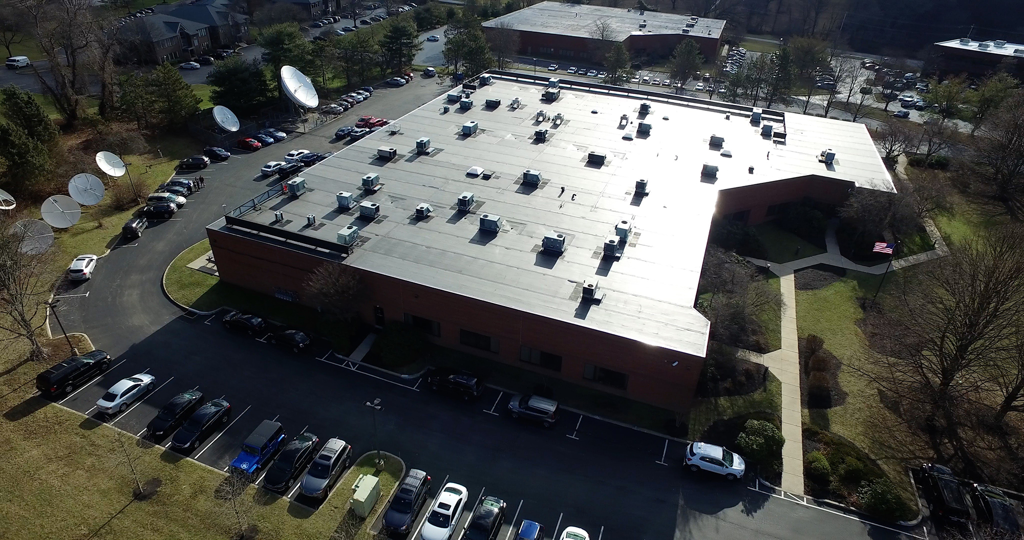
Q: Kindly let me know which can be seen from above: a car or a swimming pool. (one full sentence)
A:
Visible in the photo is a car.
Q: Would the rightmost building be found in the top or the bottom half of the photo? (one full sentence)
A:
The rightmost building is in the top half of the image.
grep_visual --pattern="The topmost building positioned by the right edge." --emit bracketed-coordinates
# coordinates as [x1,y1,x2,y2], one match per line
[924,39,1024,87]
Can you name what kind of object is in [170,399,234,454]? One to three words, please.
car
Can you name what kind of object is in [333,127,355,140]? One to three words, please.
vehicle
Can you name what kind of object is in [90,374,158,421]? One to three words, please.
car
